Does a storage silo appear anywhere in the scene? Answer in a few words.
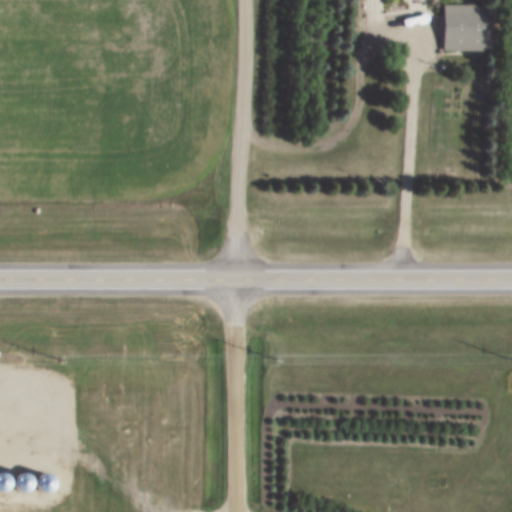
Yes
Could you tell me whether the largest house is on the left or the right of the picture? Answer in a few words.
right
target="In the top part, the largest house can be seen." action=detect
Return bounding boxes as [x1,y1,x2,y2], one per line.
[445,4,488,52]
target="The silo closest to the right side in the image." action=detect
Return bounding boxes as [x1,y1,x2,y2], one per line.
[39,472,60,493]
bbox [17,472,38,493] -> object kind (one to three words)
silo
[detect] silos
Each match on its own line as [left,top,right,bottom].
[39,472,60,493]
[0,472,16,493]
[17,472,38,493]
